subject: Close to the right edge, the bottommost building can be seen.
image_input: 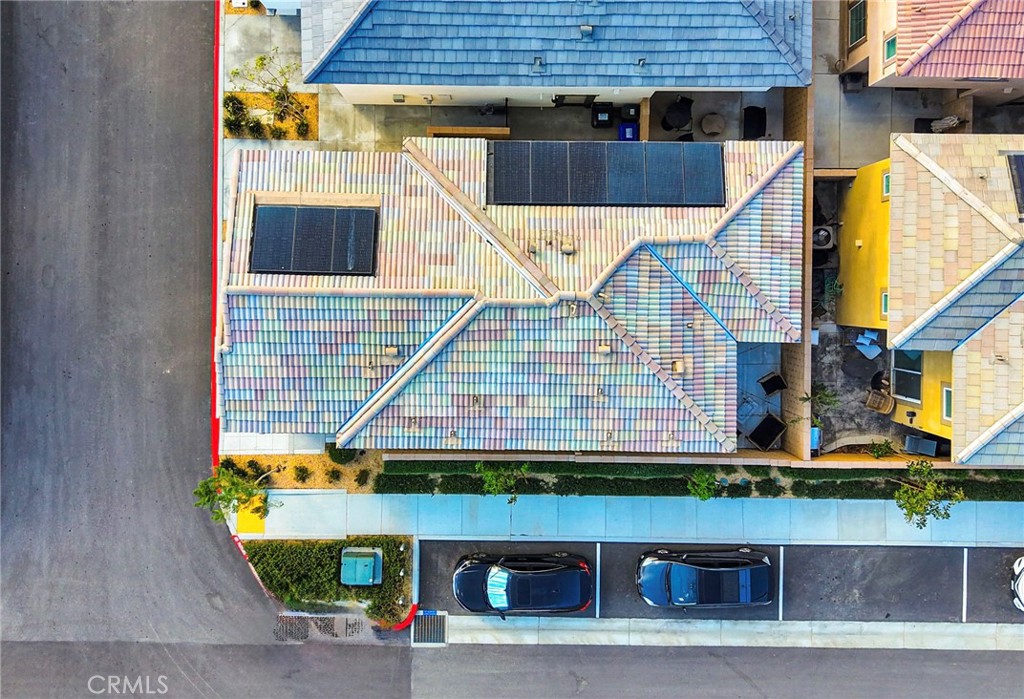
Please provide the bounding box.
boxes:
[831,132,1024,465]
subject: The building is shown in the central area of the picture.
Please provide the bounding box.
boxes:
[216,134,806,454]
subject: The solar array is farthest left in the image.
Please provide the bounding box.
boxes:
[248,189,384,275]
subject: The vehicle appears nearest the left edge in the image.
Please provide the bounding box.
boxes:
[454,549,593,620]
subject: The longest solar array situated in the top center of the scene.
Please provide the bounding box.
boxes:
[483,138,728,209]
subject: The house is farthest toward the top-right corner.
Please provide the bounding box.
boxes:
[844,0,1024,104]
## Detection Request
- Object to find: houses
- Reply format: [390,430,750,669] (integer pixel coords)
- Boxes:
[844,0,1024,104]
[303,0,813,106]
[216,134,806,454]
[831,132,1024,465]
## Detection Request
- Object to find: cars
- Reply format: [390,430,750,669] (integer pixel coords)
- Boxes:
[454,549,593,620]
[635,548,774,618]
[1006,552,1024,610]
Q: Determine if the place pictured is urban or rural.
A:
urban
